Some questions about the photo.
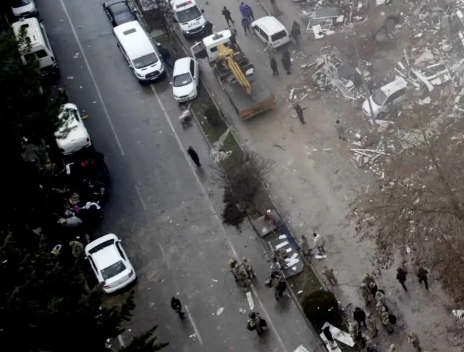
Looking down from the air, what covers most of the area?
paved ground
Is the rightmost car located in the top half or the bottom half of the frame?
top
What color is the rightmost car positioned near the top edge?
white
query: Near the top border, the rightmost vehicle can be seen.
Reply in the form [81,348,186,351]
[252,15,293,52]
